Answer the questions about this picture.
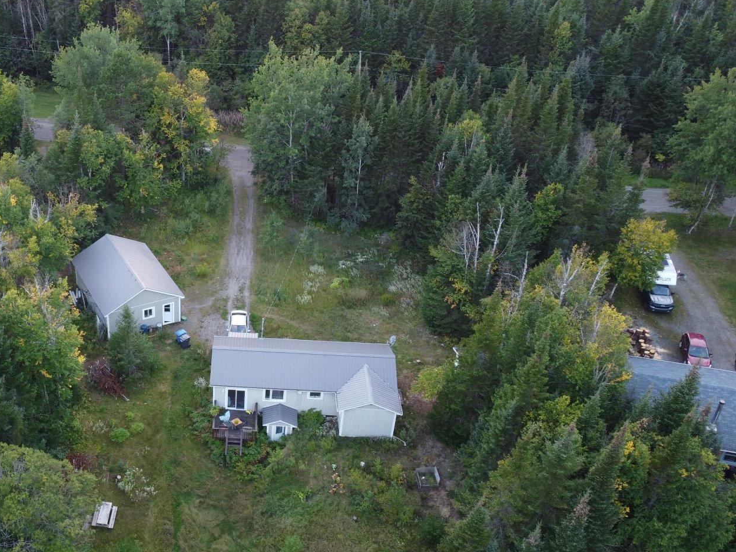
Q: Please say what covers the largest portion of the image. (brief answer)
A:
trees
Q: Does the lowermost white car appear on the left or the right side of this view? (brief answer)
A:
left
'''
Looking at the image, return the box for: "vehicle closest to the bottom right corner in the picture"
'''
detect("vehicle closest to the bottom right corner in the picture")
[671,329,717,368]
